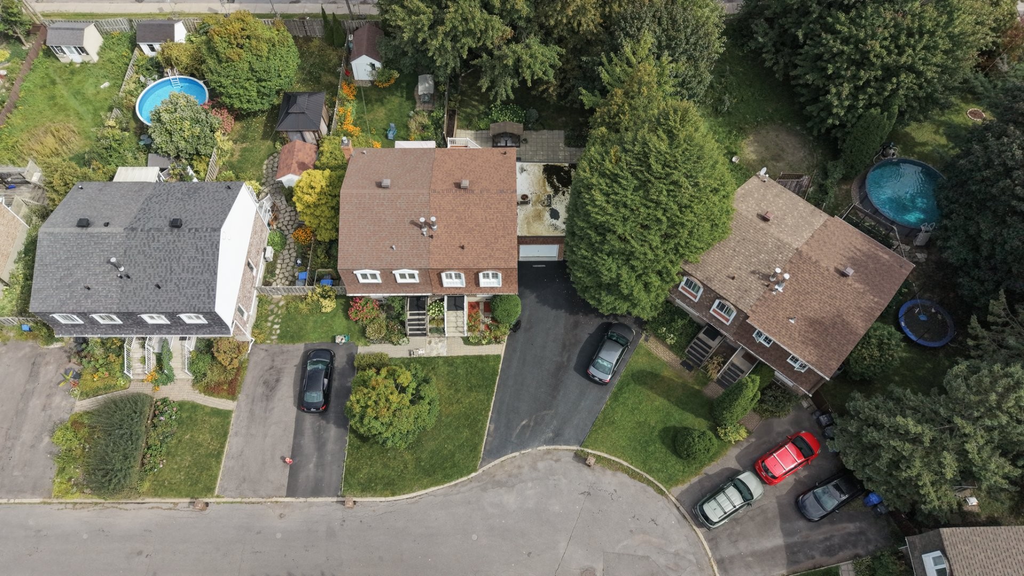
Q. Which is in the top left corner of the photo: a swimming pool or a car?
swimming pool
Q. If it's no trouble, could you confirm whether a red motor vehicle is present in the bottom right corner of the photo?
Yes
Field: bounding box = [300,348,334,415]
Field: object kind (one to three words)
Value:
car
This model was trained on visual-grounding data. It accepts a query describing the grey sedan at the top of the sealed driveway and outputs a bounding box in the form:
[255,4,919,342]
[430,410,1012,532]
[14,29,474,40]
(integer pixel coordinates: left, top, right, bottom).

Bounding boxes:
[588,322,635,388]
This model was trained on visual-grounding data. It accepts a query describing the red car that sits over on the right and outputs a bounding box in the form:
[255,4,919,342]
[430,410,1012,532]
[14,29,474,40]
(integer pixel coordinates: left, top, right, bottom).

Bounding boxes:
[754,432,821,486]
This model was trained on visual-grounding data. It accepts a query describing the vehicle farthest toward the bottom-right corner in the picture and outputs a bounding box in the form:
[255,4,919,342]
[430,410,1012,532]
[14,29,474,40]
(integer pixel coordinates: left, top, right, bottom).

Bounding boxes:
[792,470,870,523]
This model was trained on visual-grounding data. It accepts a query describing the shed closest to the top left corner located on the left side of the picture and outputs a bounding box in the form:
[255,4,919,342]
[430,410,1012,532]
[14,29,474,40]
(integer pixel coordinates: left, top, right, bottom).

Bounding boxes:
[46,25,100,63]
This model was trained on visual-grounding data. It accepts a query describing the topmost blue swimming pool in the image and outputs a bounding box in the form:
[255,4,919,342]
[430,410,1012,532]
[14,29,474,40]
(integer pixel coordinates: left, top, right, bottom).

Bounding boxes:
[136,75,213,136]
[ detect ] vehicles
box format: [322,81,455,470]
[588,322,635,388]
[792,470,870,523]
[693,470,767,532]
[754,432,821,486]
[300,348,334,415]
